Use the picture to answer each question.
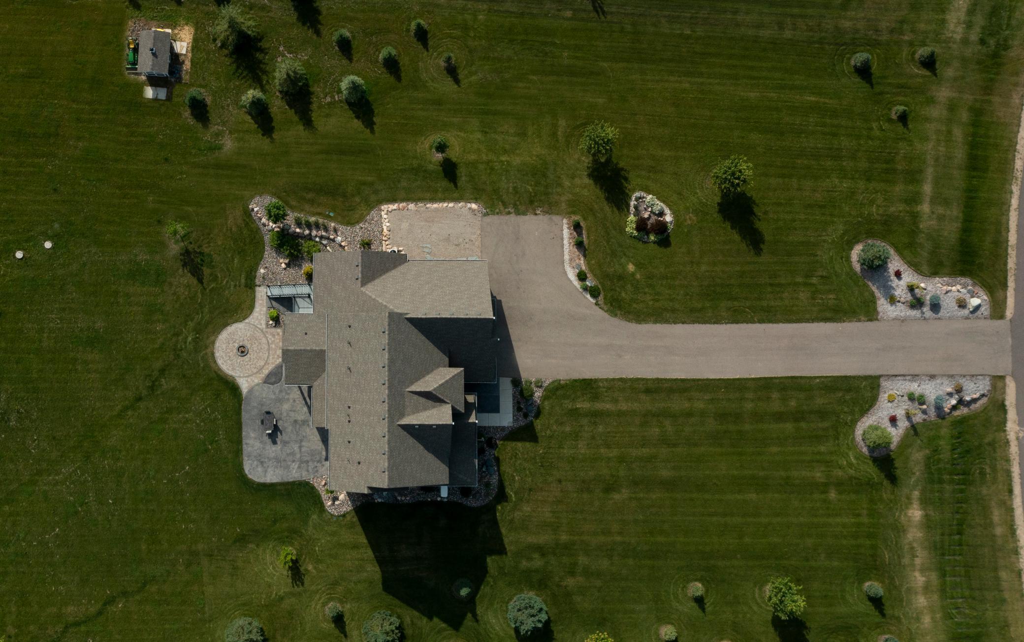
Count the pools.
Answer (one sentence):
There are no pools in the image.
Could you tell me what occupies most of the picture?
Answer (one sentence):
For the most part, this view shows grass.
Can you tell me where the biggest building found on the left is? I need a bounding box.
[283,250,501,494]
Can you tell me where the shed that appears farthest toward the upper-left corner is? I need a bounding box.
[137,28,172,79]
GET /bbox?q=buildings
[283,250,501,494]
[137,28,172,79]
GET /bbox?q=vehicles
[123,39,139,76]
